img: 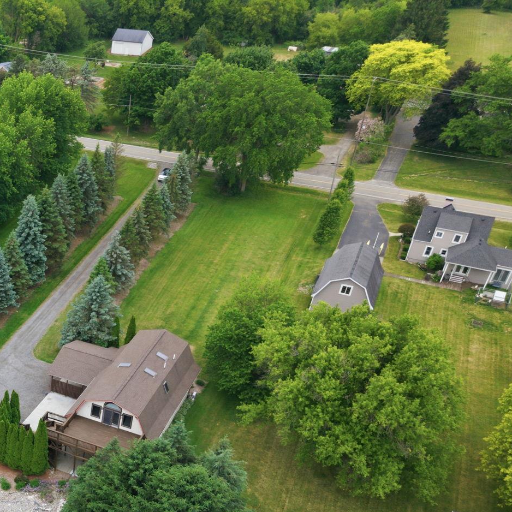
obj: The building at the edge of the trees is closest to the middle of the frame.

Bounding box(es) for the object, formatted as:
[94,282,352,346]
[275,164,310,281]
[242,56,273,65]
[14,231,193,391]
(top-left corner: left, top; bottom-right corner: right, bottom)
[311,242,388,312]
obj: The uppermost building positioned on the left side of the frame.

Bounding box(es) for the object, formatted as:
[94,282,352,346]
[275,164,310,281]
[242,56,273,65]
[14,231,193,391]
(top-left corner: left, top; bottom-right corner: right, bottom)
[110,27,156,56]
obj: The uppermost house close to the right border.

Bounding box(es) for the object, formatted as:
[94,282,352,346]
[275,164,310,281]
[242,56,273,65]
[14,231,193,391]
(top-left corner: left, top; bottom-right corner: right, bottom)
[406,191,512,289]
